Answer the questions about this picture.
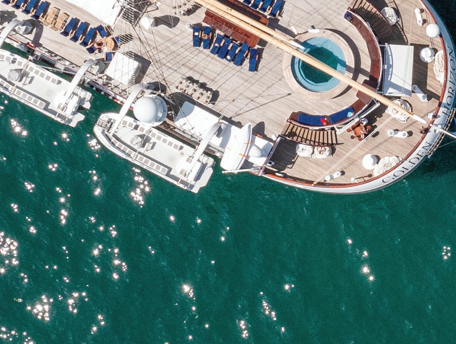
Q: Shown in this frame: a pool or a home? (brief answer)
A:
pool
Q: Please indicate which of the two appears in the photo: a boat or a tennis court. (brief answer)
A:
boat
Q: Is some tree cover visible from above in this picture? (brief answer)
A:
No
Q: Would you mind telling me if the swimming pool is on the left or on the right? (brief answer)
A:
right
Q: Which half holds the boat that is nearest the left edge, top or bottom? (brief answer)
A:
top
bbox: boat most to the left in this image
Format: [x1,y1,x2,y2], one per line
[0,49,93,128]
